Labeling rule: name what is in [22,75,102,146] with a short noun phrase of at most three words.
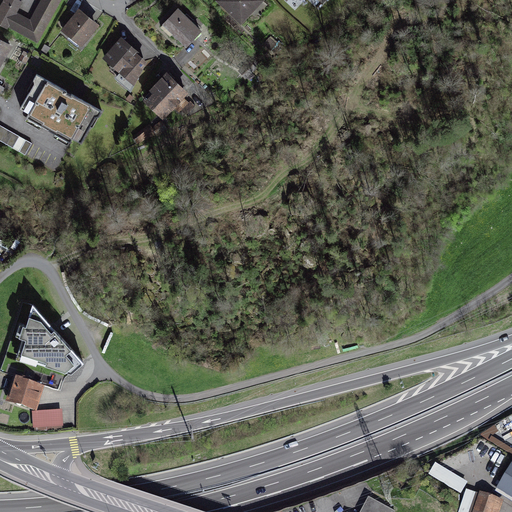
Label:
building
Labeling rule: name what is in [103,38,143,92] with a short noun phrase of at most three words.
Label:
house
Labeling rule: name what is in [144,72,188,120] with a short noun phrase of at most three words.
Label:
house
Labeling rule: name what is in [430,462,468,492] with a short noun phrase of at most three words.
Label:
building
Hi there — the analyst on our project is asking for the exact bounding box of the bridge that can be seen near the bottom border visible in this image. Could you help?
[0,440,207,512]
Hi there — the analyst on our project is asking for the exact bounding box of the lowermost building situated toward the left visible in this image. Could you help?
[32,408,63,429]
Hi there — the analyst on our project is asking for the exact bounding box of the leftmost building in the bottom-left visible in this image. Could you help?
[6,374,44,412]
